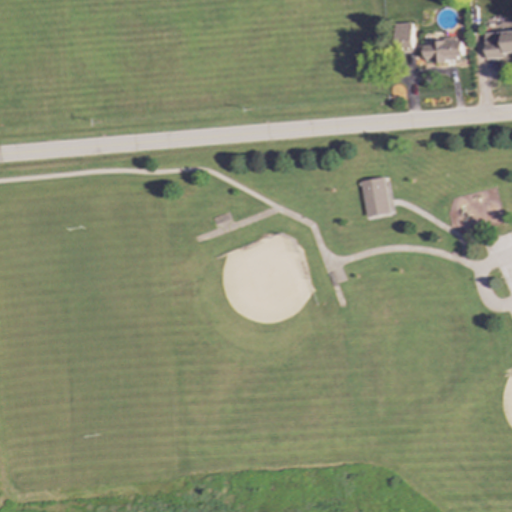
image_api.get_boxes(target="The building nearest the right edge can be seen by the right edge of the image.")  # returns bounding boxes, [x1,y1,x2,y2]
[484,32,512,60]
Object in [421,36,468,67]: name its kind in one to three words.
house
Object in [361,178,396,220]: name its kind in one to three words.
building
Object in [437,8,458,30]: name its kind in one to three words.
swimming pool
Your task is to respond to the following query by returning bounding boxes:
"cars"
[454,70,460,83]
[413,84,418,96]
